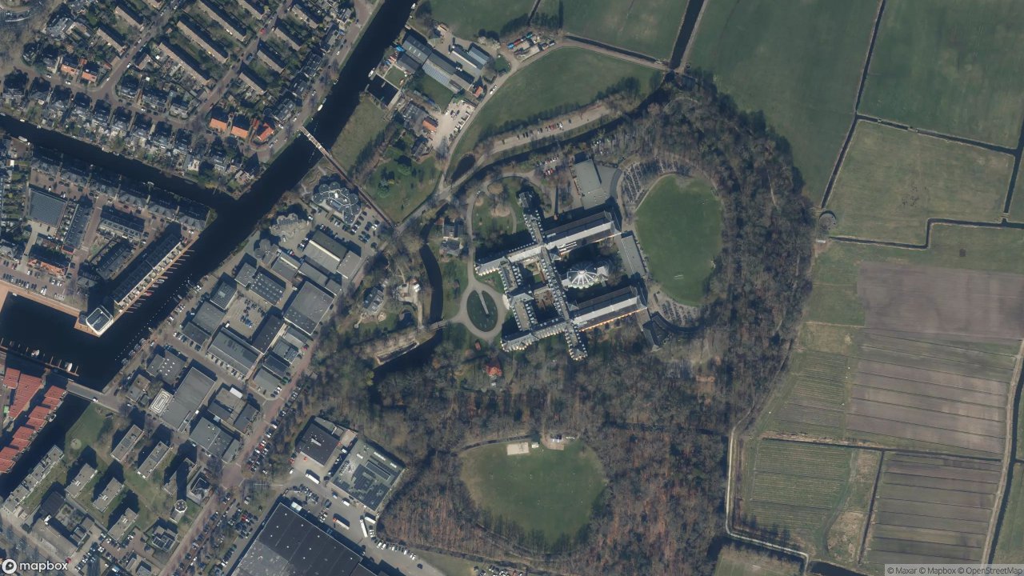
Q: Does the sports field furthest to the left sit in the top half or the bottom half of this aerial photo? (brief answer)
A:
bottom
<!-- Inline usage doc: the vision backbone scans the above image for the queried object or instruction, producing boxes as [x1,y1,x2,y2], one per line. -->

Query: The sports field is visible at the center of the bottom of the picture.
[462,437,607,547]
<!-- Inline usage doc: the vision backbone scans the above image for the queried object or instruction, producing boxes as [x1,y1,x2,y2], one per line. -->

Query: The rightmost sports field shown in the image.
[636,174,722,305]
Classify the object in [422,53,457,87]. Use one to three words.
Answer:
building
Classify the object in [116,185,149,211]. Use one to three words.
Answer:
house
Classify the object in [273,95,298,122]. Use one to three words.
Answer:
house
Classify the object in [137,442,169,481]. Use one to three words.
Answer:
building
